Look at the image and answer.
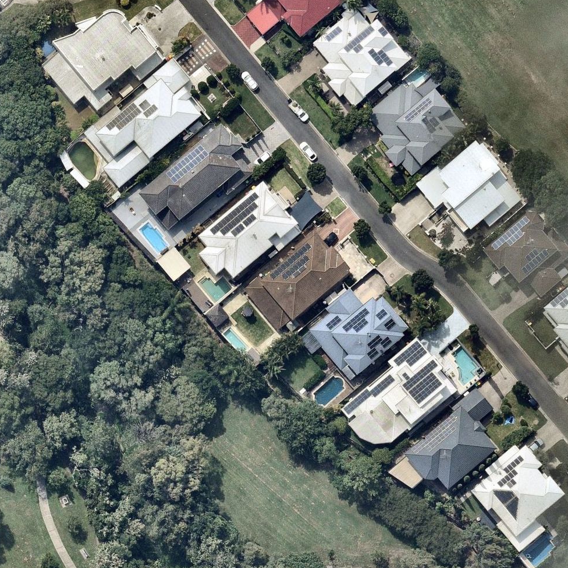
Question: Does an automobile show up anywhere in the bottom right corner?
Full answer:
Yes, there is an automobile in the bottom right corner.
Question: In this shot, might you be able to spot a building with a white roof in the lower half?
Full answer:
Yes, you'll find a building with a white roof in the lower half.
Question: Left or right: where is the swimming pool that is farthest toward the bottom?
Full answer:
The swimming pool that is farthest toward the bottom appears in the right half of the scene.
